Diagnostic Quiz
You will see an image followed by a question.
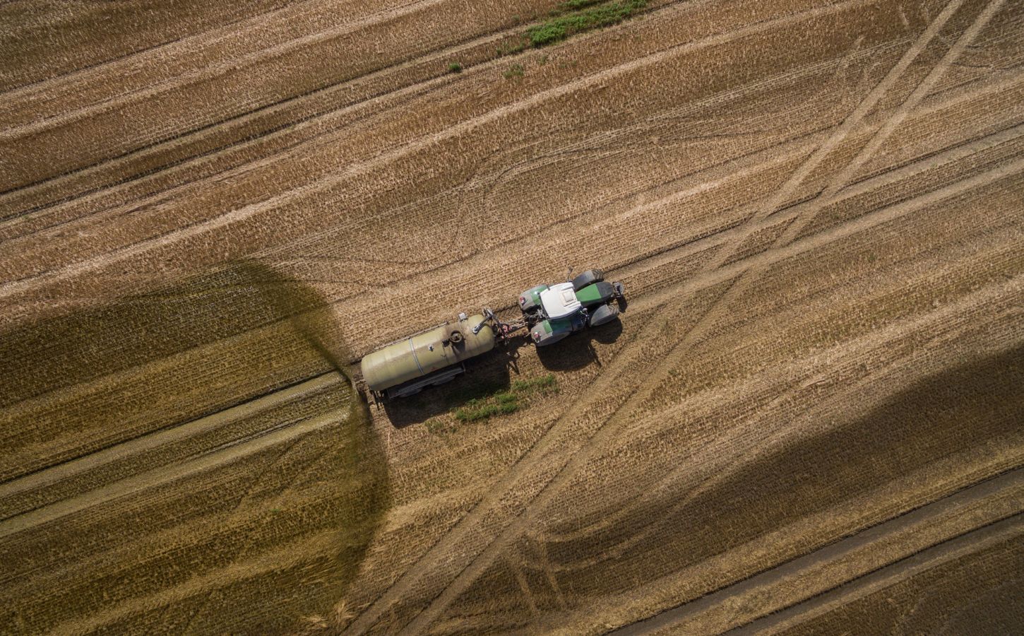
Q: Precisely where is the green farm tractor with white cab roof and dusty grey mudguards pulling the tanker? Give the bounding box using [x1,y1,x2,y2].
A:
[516,268,622,348]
